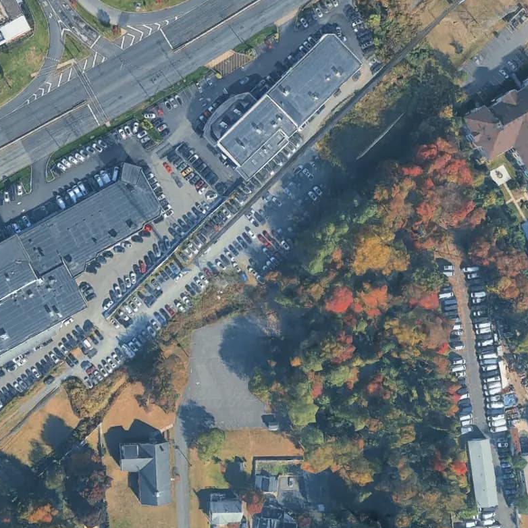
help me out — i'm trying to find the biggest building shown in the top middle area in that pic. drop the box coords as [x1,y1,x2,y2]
[216,35,362,180]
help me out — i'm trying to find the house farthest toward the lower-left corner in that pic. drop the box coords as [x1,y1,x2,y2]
[119,443,178,504]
